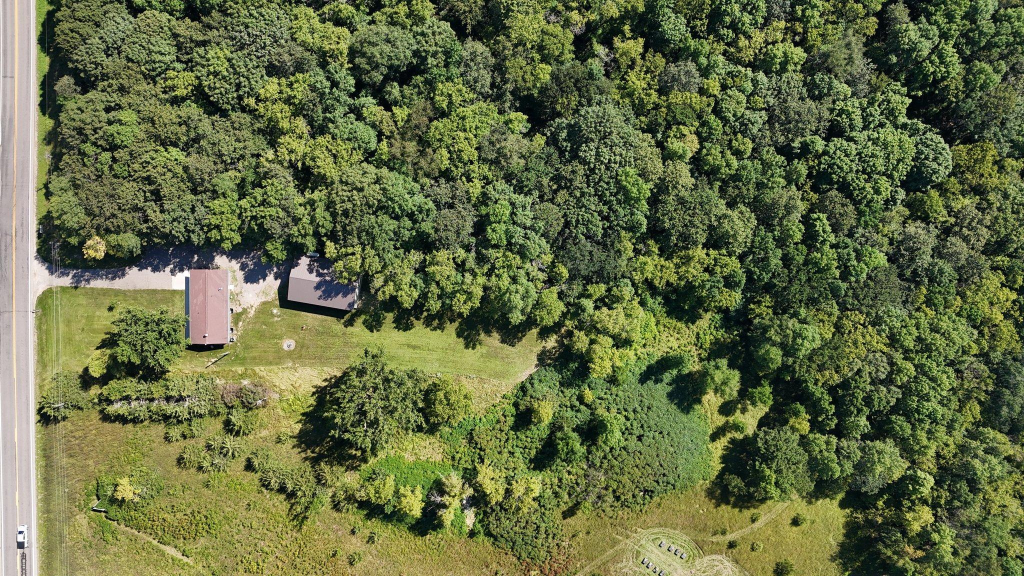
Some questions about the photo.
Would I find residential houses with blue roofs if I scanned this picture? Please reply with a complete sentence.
No, this view has no residential house with a blue roof in it.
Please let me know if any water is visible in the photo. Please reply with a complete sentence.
No, there is no water in the image.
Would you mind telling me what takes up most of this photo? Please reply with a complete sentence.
Most of the picture is covered by trees.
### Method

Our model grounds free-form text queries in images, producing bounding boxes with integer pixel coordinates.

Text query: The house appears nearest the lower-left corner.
[190,269,236,345]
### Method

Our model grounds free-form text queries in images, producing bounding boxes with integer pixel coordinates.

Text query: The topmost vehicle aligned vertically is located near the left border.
[16,523,29,550]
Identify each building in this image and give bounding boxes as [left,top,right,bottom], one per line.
[190,269,236,345]
[288,254,360,310]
